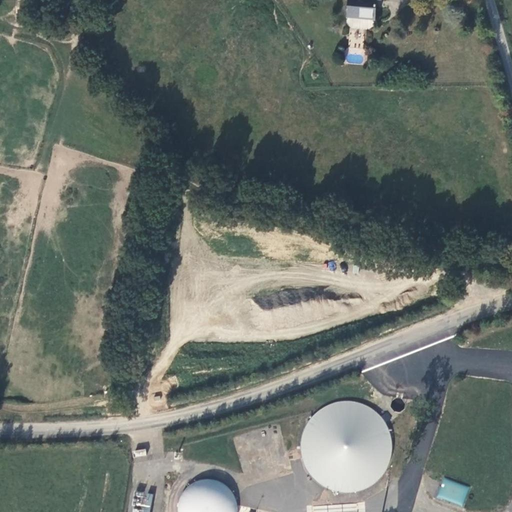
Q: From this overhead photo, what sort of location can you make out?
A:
industrial area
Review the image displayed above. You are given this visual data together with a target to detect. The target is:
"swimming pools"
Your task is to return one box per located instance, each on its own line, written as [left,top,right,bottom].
[344,49,368,66]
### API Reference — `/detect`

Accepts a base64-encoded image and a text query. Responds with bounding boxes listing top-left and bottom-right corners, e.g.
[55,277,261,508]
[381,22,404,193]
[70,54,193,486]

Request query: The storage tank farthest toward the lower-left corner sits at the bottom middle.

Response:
[178,480,238,512]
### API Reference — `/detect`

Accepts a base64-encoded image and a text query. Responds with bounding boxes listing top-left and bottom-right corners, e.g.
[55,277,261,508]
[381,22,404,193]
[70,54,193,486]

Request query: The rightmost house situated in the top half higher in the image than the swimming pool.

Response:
[347,0,377,30]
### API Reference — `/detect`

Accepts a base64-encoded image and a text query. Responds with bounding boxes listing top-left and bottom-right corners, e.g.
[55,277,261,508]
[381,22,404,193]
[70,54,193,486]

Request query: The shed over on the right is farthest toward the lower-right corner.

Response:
[438,479,472,506]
